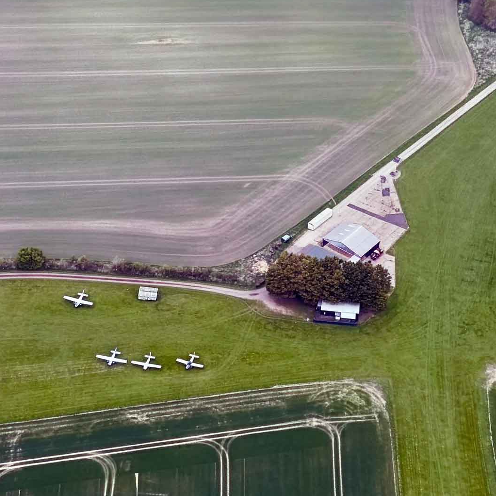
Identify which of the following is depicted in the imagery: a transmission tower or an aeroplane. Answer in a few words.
aeroplane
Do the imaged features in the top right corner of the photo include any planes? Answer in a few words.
No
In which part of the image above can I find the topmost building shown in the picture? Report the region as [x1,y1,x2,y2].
[322,222,380,262]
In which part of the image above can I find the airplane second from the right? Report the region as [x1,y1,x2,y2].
[131,353,161,372]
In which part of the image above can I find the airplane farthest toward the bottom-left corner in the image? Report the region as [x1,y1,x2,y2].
[96,348,128,367]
